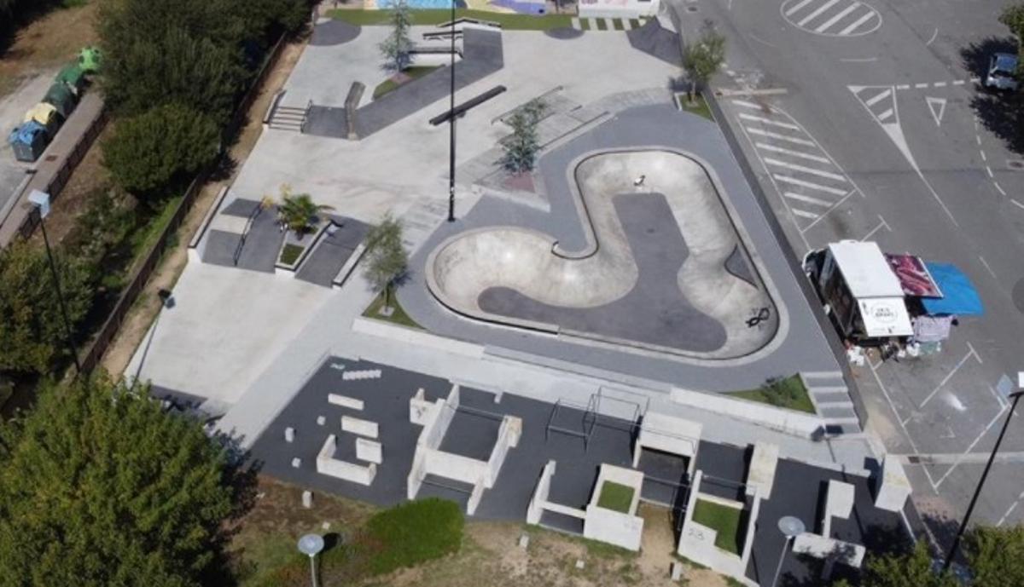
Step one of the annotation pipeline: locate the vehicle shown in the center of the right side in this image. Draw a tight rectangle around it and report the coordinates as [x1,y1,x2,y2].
[811,242,913,350]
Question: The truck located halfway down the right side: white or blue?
white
